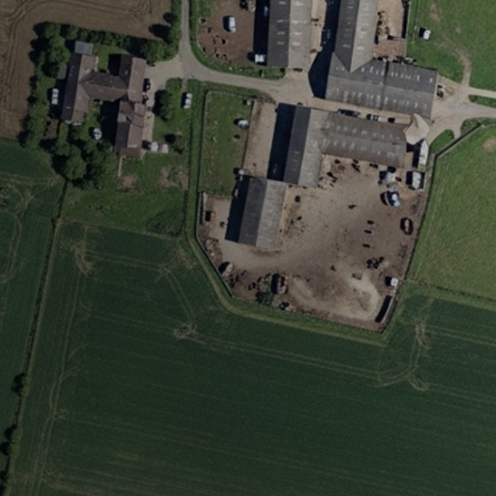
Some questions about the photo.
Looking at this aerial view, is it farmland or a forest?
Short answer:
farmland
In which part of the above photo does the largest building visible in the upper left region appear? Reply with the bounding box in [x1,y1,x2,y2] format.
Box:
[60,51,148,159]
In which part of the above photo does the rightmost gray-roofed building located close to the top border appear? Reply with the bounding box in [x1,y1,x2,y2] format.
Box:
[323,0,439,117]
